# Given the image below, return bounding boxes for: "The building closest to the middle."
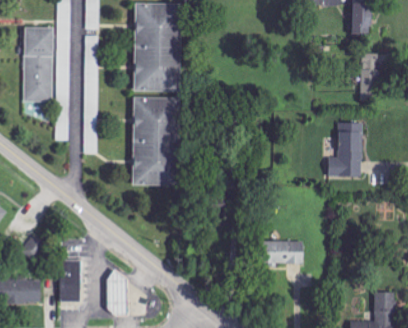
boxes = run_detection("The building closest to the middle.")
[133,96,180,186]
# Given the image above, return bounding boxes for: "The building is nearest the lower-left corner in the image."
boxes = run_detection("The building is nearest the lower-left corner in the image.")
[0,279,42,306]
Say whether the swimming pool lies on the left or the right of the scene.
left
